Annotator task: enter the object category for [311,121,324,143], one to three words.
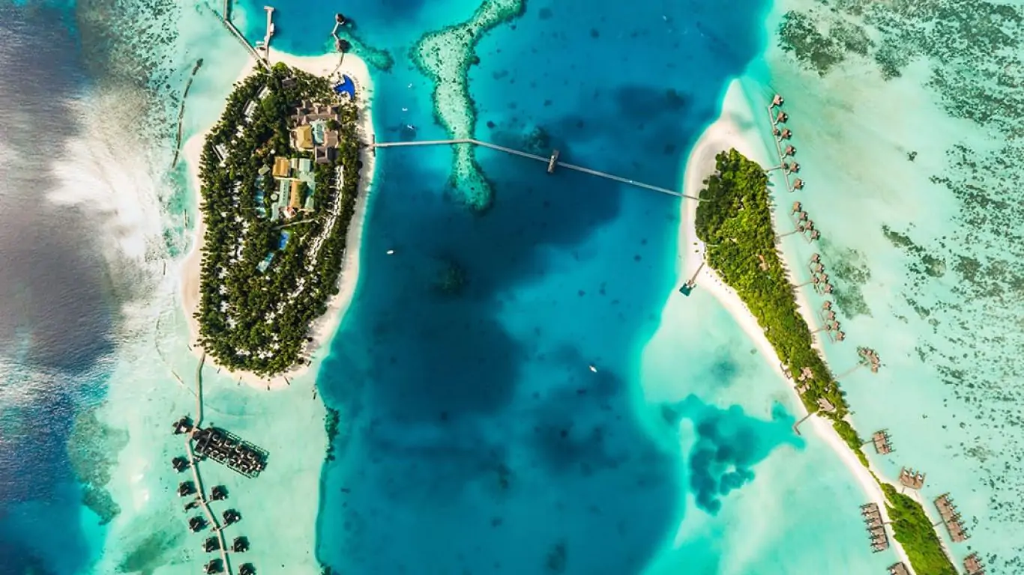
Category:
swimming pool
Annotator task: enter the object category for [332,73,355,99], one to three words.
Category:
swimming pool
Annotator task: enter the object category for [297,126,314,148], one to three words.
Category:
building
